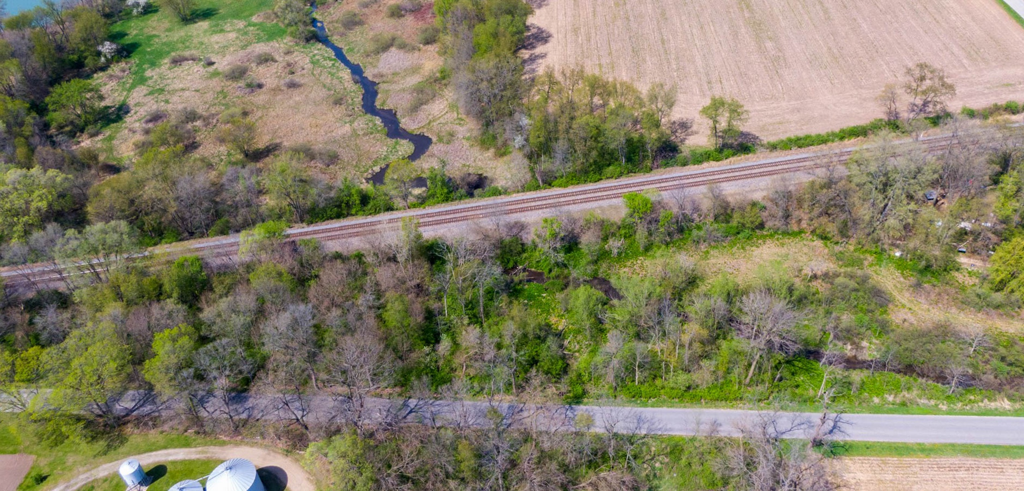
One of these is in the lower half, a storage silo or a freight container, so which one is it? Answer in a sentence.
The feature located in the lower half is a storage silo.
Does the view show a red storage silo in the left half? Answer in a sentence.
No, the scene shows no red storage silo in the left half.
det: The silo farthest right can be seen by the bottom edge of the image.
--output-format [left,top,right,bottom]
[204,456,267,491]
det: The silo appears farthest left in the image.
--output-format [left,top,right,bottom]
[117,457,154,491]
